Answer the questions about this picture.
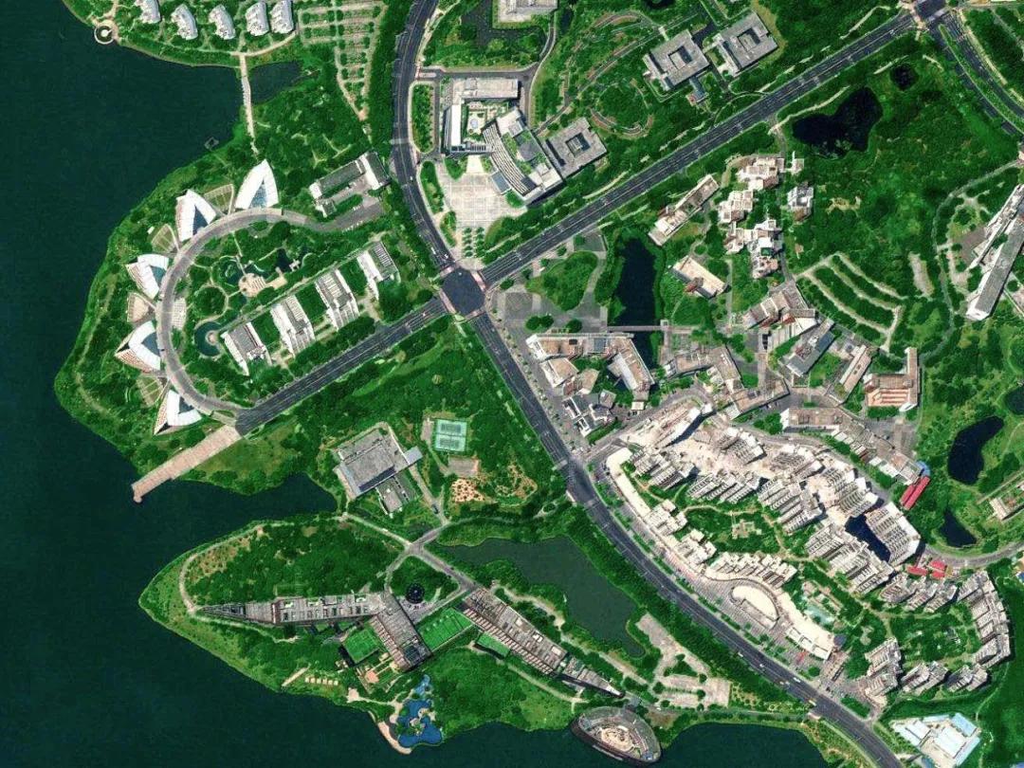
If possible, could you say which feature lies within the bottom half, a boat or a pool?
pool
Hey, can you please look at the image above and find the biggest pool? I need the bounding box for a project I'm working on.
[398,675,442,746]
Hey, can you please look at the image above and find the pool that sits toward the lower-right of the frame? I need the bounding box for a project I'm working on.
[804,604,835,624]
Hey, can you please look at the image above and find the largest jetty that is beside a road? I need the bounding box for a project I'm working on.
[132,426,239,503]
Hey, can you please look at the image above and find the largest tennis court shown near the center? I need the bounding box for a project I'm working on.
[434,419,468,452]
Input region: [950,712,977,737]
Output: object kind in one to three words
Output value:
shed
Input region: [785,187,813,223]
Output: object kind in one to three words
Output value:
house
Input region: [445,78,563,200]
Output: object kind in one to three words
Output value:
building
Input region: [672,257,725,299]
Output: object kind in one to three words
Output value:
building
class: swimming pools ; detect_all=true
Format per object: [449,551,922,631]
[398,675,442,746]
[804,604,835,624]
